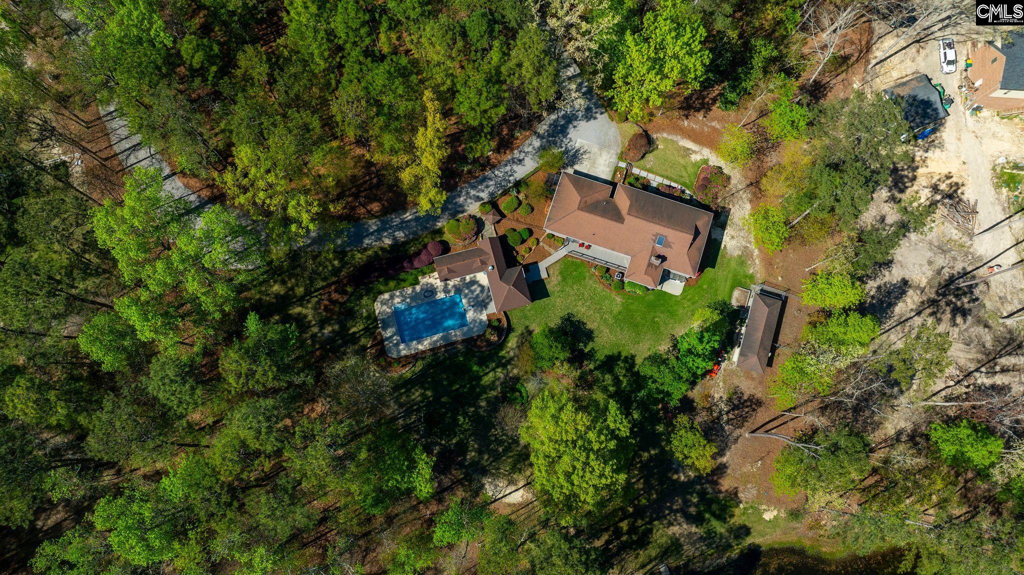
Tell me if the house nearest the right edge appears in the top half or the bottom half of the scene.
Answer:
top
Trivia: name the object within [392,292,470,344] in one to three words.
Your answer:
swimming pool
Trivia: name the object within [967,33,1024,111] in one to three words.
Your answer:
house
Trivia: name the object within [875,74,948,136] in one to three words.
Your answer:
shed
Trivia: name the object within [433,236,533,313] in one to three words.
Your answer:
building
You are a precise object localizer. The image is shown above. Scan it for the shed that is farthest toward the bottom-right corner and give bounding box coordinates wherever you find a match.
[734,293,782,375]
